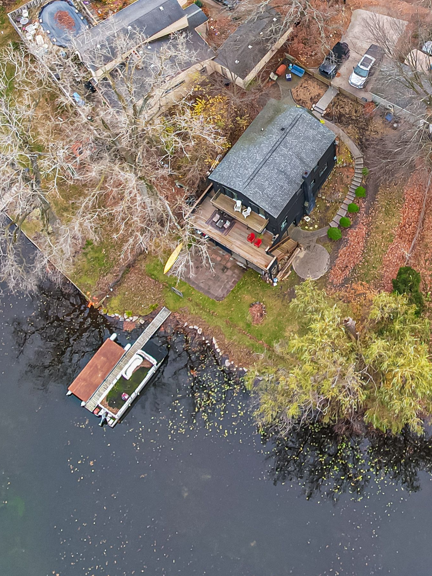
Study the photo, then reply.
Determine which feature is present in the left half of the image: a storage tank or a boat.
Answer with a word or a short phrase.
boat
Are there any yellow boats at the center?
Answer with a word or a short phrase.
Yes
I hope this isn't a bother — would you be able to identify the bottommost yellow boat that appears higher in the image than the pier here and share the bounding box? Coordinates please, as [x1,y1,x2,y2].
[164,242,182,274]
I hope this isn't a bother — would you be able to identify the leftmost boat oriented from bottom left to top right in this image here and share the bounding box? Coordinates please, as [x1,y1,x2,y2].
[63,336,131,413]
